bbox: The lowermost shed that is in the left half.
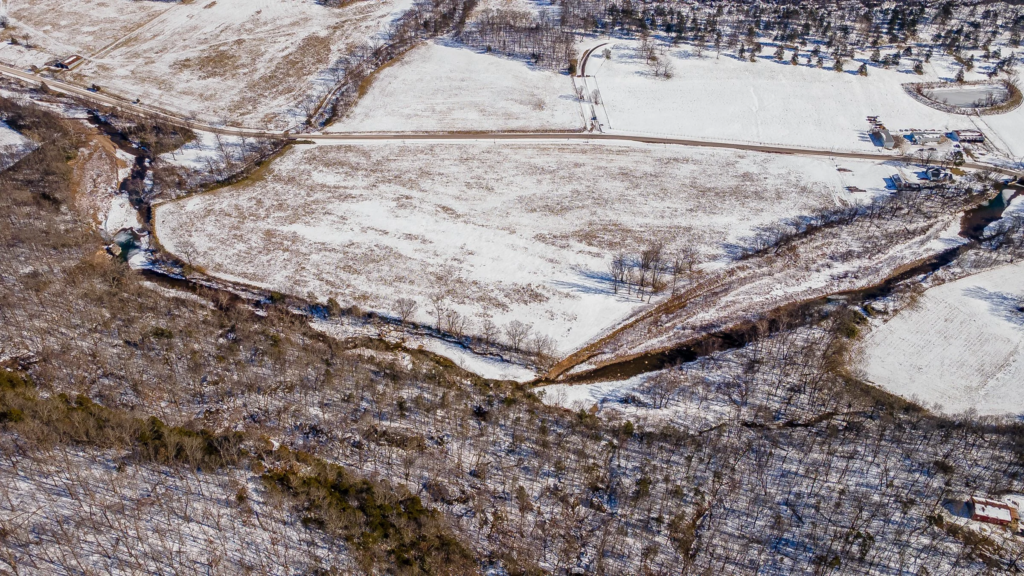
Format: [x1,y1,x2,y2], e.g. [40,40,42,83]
[52,54,91,69]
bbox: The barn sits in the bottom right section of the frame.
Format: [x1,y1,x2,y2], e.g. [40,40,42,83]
[964,492,1022,523]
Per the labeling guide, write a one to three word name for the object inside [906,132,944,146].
house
